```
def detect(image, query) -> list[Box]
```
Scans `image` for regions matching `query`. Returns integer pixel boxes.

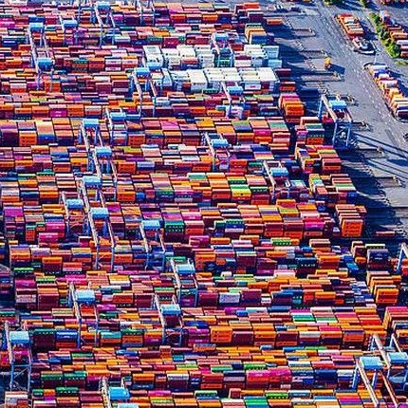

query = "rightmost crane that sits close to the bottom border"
[375,334,408,391]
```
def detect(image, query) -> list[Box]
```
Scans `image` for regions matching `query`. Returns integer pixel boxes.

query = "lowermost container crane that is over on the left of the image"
[103,377,132,408]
